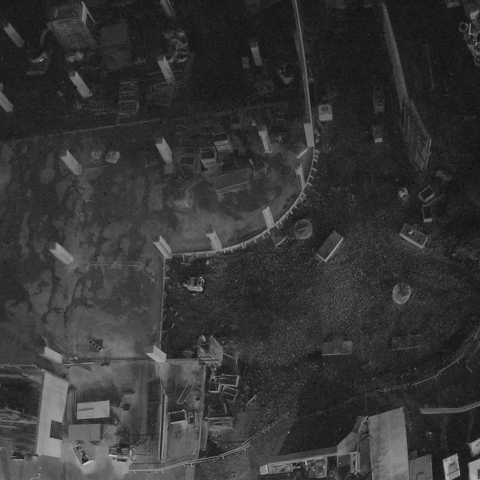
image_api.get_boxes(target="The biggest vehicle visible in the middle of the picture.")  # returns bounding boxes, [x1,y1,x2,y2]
[182,276,206,292]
